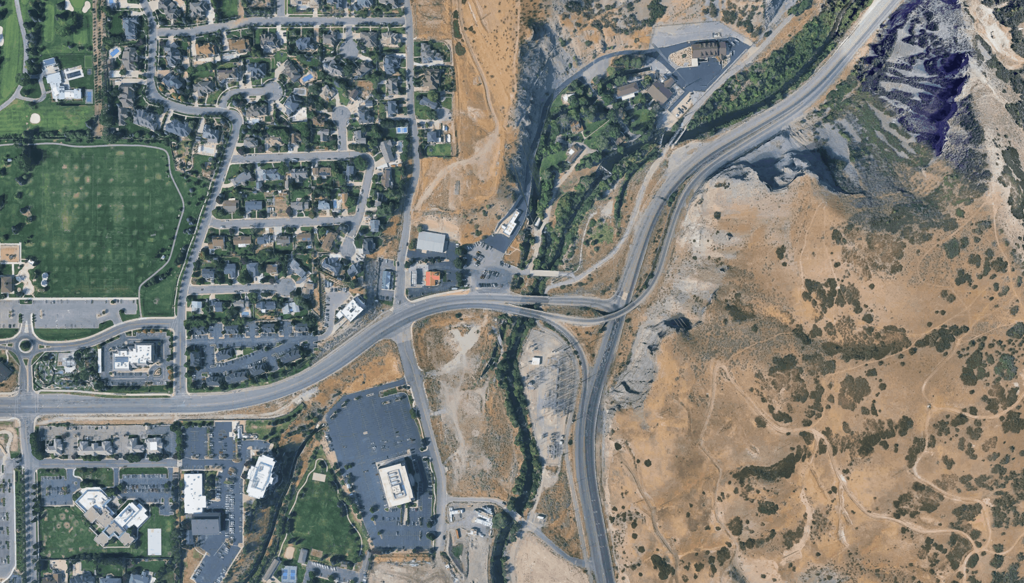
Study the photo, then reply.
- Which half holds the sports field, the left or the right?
left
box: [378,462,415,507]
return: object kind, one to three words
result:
building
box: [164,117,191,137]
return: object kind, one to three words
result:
house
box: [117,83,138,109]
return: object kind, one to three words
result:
house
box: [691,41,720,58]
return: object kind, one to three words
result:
building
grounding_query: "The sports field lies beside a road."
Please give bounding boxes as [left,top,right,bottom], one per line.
[0,137,210,314]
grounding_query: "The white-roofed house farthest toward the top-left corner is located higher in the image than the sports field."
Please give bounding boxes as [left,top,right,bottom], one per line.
[46,73,83,101]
